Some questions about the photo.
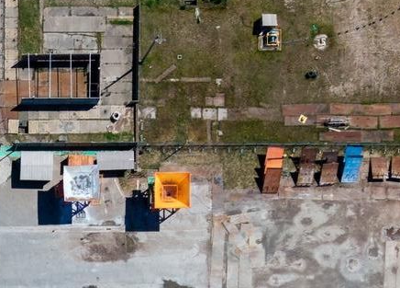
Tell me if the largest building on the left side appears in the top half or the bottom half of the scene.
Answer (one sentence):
The largest building on the left side is in the top half of the image.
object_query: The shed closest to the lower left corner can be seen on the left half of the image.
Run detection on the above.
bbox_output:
[18,151,53,182]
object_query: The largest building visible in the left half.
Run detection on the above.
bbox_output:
[24,53,100,102]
